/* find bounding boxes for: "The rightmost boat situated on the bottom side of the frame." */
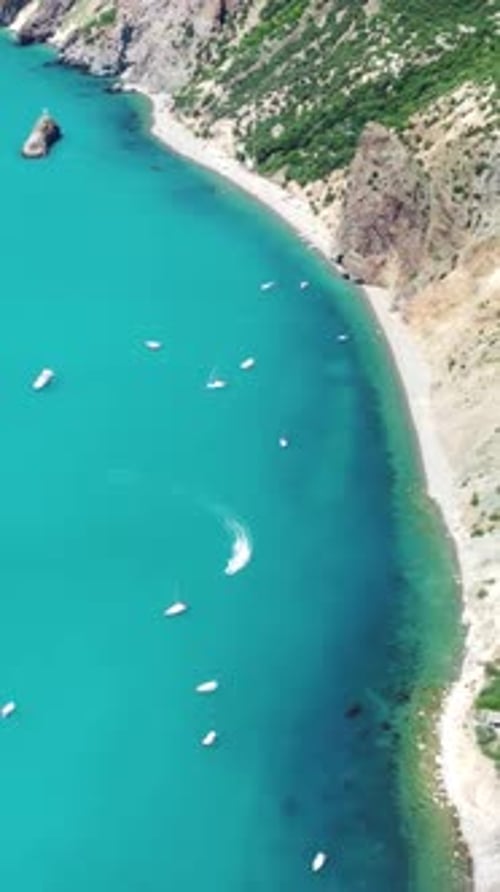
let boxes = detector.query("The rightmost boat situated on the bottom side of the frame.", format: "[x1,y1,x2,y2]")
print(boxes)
[310,850,326,871]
